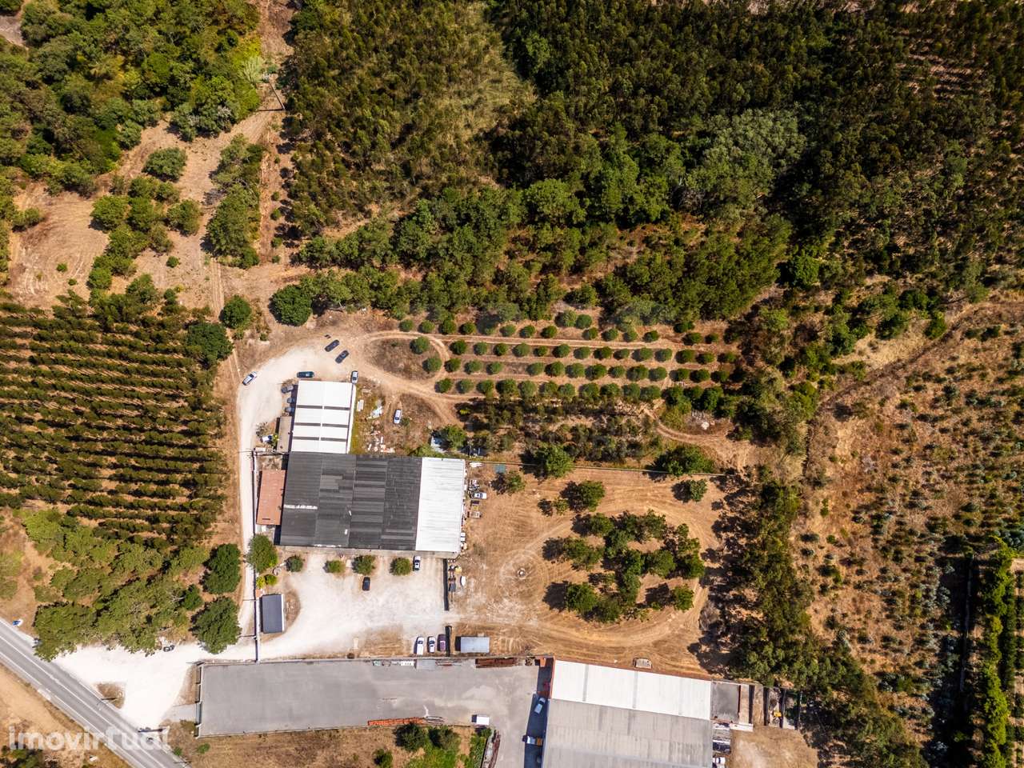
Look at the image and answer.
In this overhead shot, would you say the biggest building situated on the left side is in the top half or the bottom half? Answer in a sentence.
Seen from above, the biggest building situated on the left side lies in the bottom half of the view.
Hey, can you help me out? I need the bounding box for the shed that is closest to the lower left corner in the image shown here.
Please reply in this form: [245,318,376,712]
[262,591,286,633]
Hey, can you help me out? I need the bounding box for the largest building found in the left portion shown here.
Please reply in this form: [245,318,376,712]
[280,452,466,553]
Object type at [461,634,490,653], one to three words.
shed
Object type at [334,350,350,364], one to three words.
car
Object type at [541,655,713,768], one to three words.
shed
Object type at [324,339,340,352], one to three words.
vehicle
